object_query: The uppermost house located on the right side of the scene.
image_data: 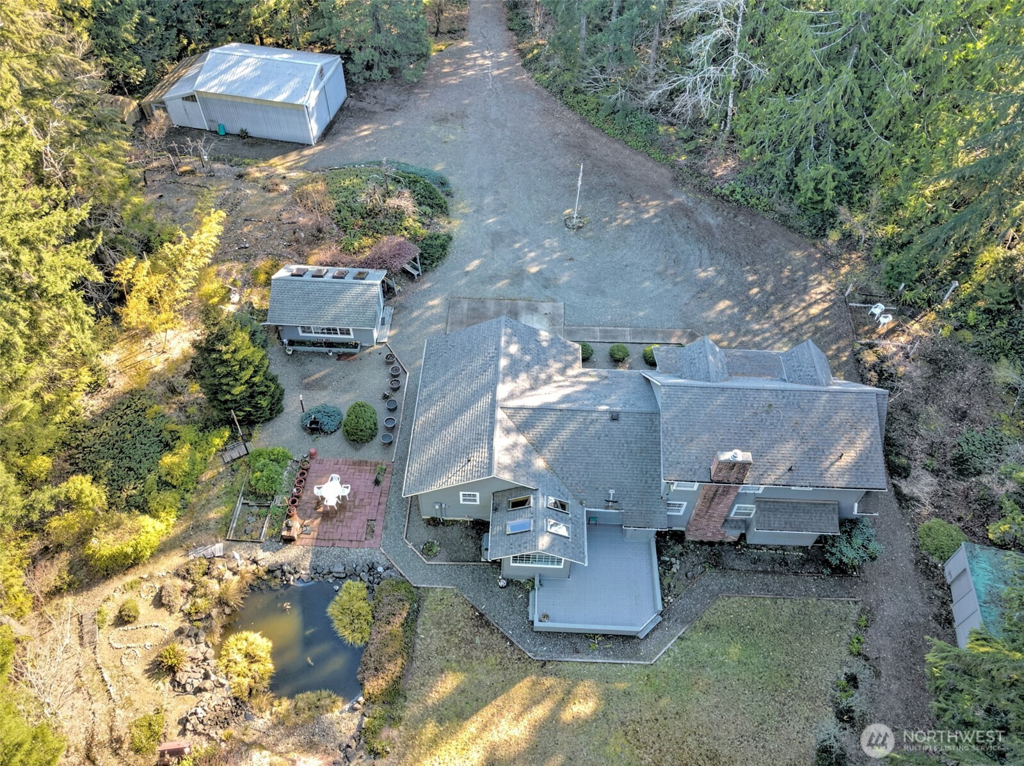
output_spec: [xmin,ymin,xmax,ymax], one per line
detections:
[399,316,888,583]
